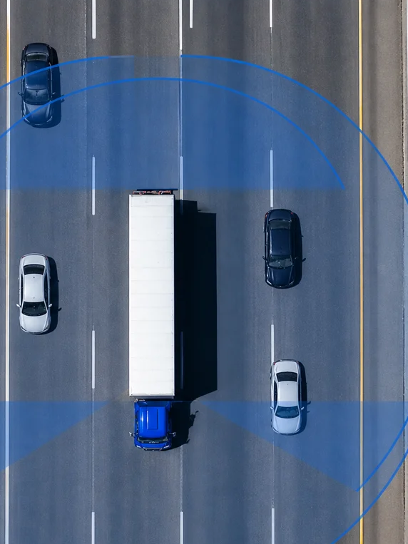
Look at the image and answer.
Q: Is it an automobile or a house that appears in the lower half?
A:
automobile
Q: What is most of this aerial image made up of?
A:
paved ground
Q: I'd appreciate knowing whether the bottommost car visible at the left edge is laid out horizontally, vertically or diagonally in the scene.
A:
vertically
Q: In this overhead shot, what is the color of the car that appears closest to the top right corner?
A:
black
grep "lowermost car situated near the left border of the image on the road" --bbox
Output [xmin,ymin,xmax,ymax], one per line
[16,253,52,334]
